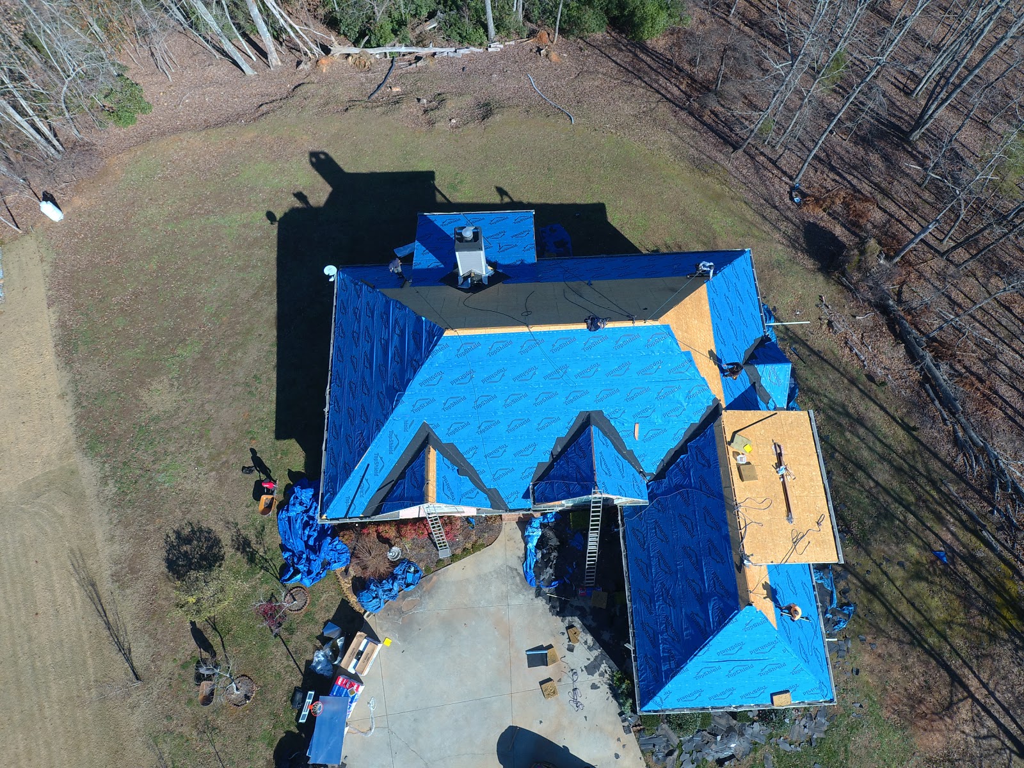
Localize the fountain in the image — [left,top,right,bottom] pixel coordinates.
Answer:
[384,545,400,561]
